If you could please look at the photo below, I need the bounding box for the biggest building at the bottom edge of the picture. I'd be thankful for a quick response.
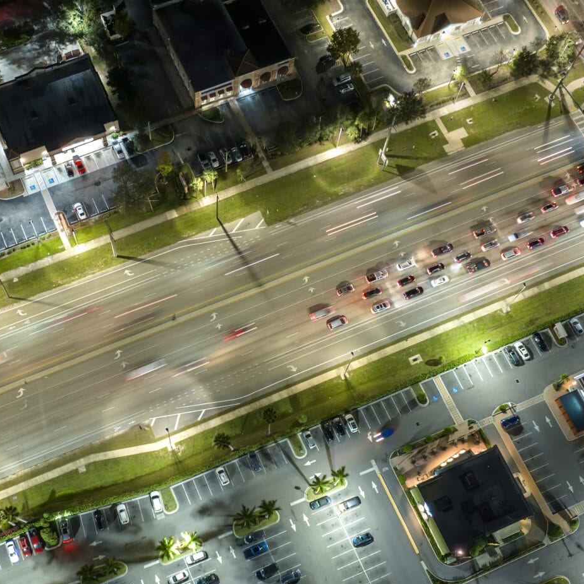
[409,444,534,558]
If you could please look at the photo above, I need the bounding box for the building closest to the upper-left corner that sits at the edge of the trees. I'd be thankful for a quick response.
[0,53,120,179]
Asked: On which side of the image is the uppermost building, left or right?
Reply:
right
